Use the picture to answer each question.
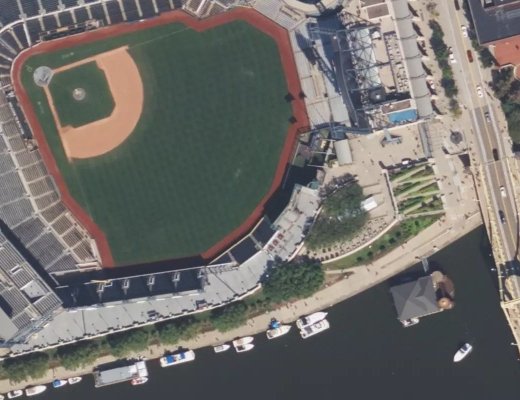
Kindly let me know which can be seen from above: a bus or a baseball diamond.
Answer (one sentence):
Looking from above, you can make out a baseball diamond.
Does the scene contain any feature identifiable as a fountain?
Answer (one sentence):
Yes, there's a fountain down there.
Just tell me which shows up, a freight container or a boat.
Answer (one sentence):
I can see a boat in this picture.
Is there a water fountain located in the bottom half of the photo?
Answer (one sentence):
No, in the bottom half of the photo there is no water fountain.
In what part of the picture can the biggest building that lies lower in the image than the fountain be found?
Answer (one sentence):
The biggest building that lies lower in the image than the fountain appears toward the bottom right of the photo.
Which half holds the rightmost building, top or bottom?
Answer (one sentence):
The top half of the photo is where the rightmost building is.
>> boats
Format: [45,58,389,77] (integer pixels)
[296,314,327,328]
[52,379,67,387]
[25,386,47,396]
[401,318,416,327]
[68,377,82,385]
[159,349,196,367]
[266,326,291,340]
[6,390,23,399]
[454,342,473,361]
[212,344,231,353]
[234,337,254,346]
[300,322,329,338]
[236,344,255,353]
[130,377,148,385]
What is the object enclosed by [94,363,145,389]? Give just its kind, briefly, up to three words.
ship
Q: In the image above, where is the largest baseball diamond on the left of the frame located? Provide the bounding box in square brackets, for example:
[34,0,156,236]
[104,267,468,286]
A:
[11,6,310,280]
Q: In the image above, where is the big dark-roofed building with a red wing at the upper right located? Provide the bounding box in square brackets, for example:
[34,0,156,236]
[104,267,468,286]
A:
[467,0,520,81]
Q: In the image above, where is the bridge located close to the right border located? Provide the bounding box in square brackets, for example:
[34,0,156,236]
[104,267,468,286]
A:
[475,159,520,352]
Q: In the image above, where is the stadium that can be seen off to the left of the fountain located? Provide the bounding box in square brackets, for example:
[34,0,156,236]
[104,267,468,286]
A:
[0,0,372,360]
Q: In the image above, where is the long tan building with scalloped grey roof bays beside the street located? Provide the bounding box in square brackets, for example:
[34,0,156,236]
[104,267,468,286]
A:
[338,0,438,134]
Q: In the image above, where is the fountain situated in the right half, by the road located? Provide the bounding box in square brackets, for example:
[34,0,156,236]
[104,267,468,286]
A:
[442,123,471,152]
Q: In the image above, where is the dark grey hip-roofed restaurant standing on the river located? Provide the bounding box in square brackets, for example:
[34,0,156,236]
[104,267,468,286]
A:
[390,271,454,319]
